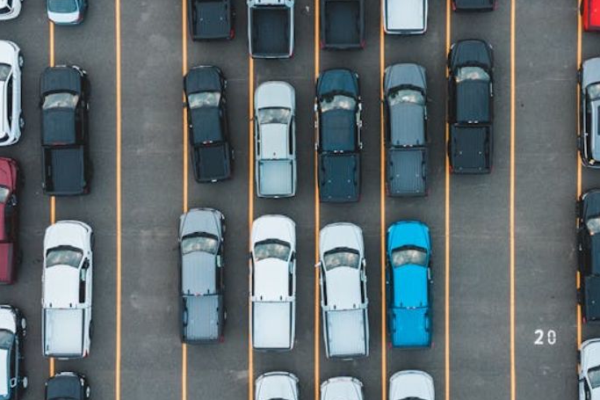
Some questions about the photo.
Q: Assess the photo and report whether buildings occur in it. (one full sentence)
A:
No, there isn't any building down there.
